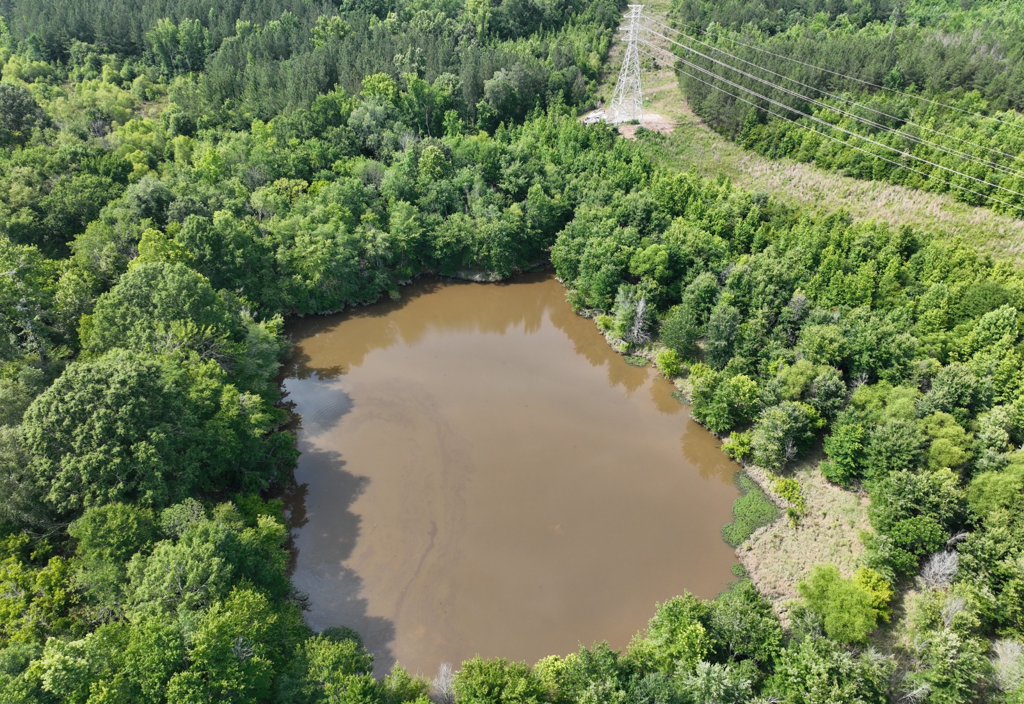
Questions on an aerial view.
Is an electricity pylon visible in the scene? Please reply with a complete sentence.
Yes, I can see an electricity pylon in this picture.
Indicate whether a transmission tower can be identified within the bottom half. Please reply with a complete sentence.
No, the scene shows no transmission tower within the bottom half.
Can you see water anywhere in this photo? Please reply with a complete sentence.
Yes, water can be seen from above here.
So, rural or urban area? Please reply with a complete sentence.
From above, the setting appears rural.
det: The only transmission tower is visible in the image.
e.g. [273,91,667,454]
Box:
[605,5,655,126]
